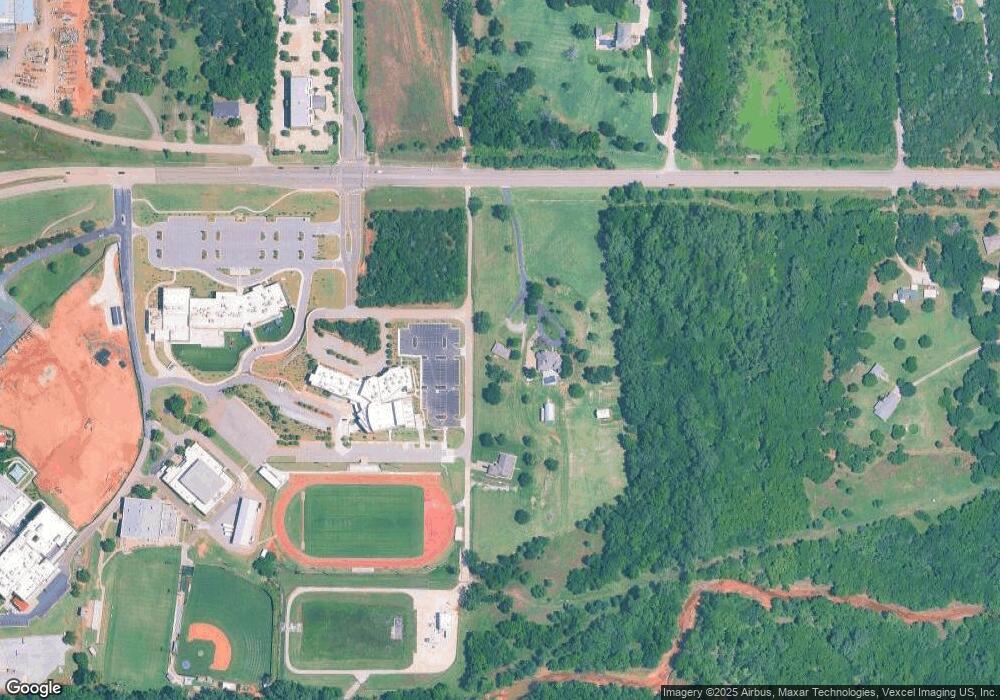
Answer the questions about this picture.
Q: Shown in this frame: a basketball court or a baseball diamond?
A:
baseball diamond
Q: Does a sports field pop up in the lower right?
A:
No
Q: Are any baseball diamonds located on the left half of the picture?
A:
Yes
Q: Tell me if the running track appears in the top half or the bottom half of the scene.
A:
bottom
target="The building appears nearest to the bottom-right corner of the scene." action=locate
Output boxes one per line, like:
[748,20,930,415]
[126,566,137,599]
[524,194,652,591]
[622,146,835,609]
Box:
[874,386,902,420]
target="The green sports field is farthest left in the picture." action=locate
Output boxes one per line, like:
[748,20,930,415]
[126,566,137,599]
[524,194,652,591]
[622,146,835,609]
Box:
[104,546,182,690]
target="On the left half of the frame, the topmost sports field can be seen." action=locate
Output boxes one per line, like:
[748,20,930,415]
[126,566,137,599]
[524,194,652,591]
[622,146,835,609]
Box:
[284,483,425,558]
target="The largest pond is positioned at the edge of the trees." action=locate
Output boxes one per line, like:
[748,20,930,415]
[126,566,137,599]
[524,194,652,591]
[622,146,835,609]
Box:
[737,75,794,152]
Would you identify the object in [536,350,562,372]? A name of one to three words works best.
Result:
house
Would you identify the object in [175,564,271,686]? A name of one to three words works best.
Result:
baseball field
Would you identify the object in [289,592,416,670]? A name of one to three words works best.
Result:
sports field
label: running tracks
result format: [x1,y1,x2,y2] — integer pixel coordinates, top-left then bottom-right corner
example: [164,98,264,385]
[271,473,457,570]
